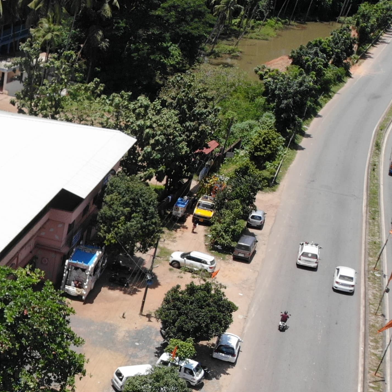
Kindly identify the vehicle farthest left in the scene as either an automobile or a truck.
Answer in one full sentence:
Specifically, the vehicle farthest left is a truck.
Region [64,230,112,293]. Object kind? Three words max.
truck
